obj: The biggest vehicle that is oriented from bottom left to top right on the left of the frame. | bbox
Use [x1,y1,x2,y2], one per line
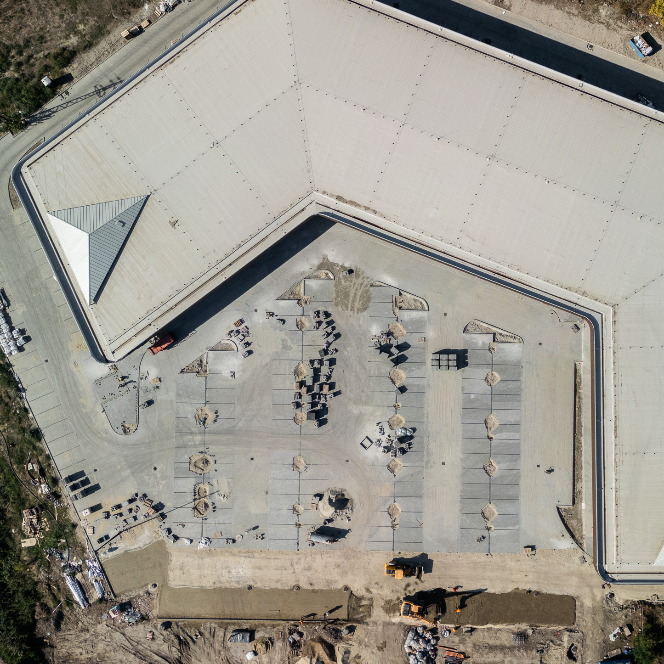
[148,329,177,352]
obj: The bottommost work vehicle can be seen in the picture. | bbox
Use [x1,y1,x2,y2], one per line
[397,599,440,630]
